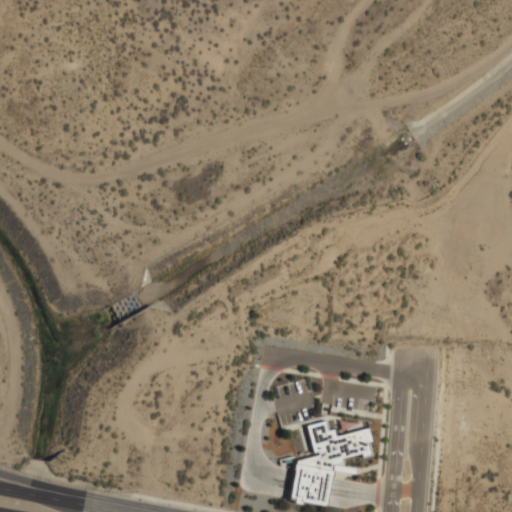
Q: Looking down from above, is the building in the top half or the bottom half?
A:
bottom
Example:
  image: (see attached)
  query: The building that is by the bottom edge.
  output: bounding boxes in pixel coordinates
[292,420,374,506]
